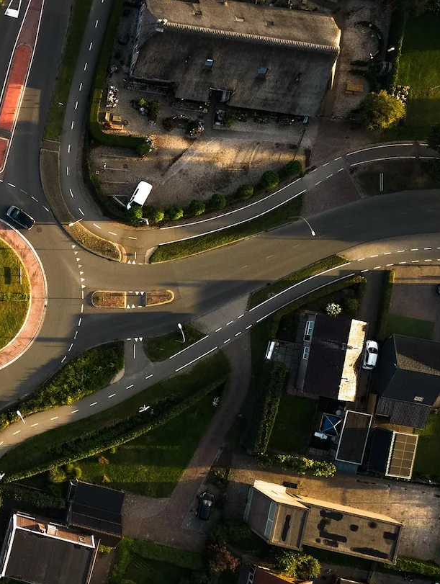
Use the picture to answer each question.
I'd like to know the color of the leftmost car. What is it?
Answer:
black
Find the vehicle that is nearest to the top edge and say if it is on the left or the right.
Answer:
left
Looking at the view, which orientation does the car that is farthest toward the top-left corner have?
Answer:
on a diagonal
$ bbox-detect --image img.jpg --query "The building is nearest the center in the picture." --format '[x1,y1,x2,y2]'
[293,314,367,401]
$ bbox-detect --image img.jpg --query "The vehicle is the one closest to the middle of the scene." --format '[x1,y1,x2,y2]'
[128,177,154,209]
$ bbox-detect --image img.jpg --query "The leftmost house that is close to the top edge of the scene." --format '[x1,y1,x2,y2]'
[127,0,341,120]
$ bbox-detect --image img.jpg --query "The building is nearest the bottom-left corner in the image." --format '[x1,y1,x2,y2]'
[1,506,101,584]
